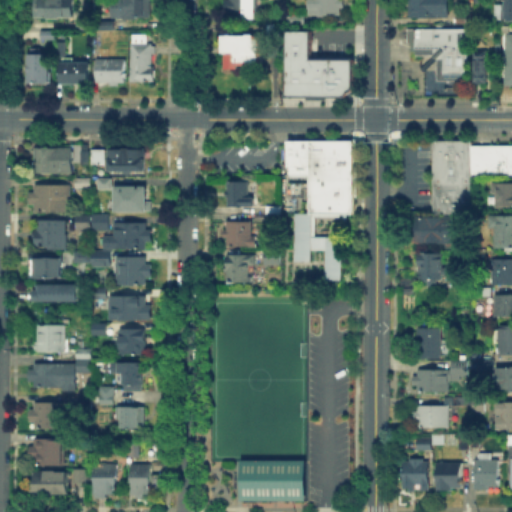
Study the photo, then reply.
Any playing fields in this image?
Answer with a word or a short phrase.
Yes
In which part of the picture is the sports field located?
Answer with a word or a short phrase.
bottom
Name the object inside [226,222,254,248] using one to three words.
house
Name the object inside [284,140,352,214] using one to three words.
building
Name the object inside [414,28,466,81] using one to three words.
building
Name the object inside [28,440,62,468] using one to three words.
house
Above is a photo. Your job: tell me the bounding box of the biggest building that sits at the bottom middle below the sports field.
[238,461,304,502]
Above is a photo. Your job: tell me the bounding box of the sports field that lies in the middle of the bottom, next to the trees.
[213,298,308,460]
